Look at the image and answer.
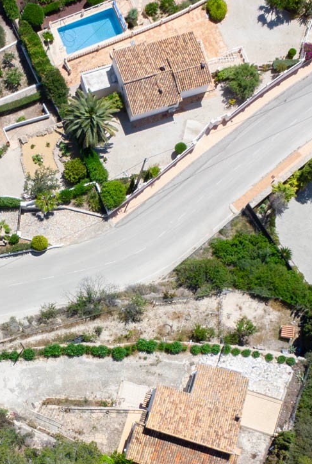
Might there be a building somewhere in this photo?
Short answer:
Yes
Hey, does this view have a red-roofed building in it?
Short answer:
No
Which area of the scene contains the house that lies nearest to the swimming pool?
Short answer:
top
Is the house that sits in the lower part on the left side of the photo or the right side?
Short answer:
right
